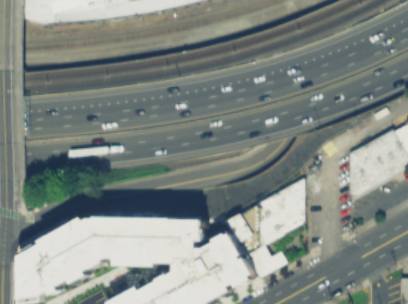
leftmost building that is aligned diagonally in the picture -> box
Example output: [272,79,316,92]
[227,213,254,244]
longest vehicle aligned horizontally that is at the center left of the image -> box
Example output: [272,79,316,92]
[68,144,124,156]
